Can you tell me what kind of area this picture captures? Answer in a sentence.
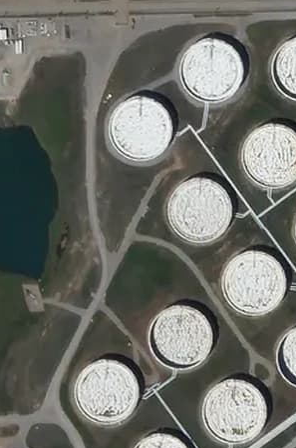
This image shows an industrial area.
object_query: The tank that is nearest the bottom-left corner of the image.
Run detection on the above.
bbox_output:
[73,358,140,426]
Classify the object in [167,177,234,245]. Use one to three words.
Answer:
storage tank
